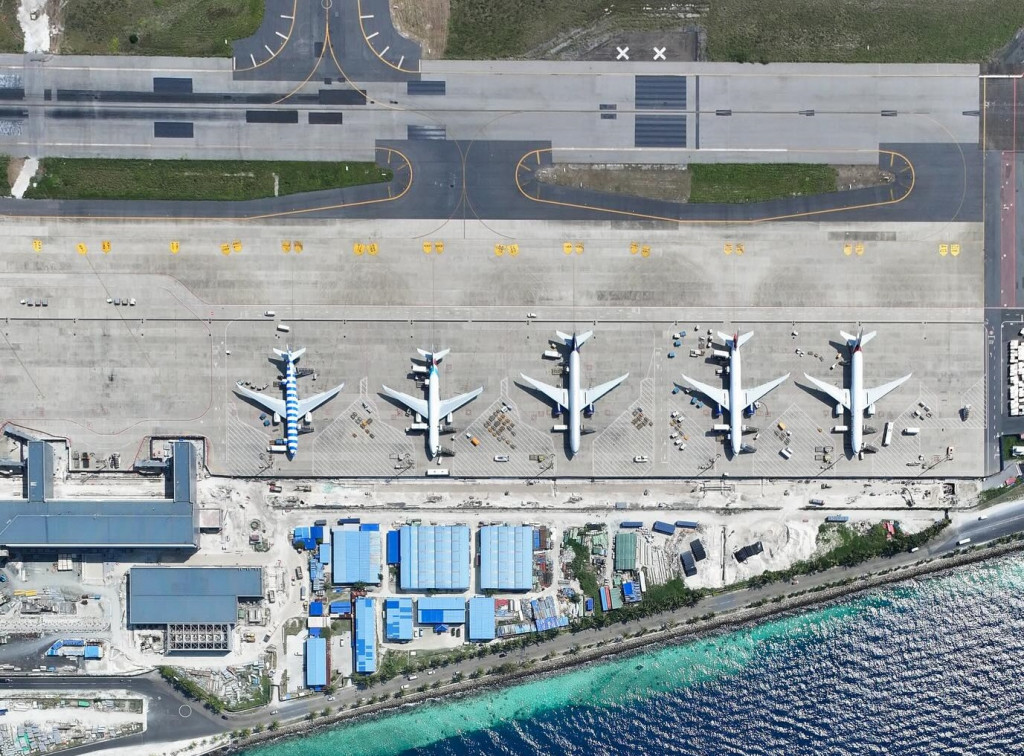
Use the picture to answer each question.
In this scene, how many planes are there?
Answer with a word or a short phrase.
5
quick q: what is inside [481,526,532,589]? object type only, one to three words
building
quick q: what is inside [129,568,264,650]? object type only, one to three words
building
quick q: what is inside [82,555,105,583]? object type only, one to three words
shed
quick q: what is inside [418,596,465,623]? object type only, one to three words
shed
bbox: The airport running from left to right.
[0,0,1024,477]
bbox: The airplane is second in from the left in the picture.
[383,347,484,458]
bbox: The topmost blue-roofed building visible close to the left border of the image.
[0,424,201,545]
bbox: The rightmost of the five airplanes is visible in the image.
[803,330,912,455]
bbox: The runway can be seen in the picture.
[0,53,980,219]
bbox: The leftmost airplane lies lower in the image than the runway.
[235,346,343,457]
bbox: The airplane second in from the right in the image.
[681,331,791,456]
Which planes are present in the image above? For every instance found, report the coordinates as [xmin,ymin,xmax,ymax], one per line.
[520,331,628,455]
[383,347,484,458]
[681,331,791,456]
[235,346,343,457]
[803,330,912,455]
